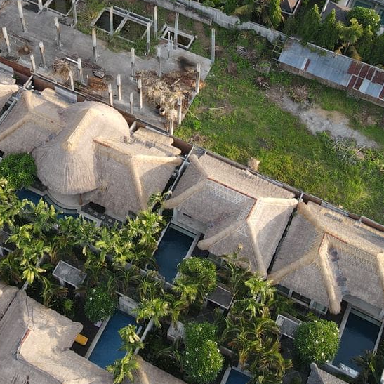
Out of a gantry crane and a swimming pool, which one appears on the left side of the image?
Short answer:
swimming pool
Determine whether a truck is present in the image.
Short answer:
No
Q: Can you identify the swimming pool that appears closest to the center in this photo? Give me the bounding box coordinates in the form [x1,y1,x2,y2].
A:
[142,223,202,283]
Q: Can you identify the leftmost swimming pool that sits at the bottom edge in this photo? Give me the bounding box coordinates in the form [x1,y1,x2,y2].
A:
[88,304,148,375]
